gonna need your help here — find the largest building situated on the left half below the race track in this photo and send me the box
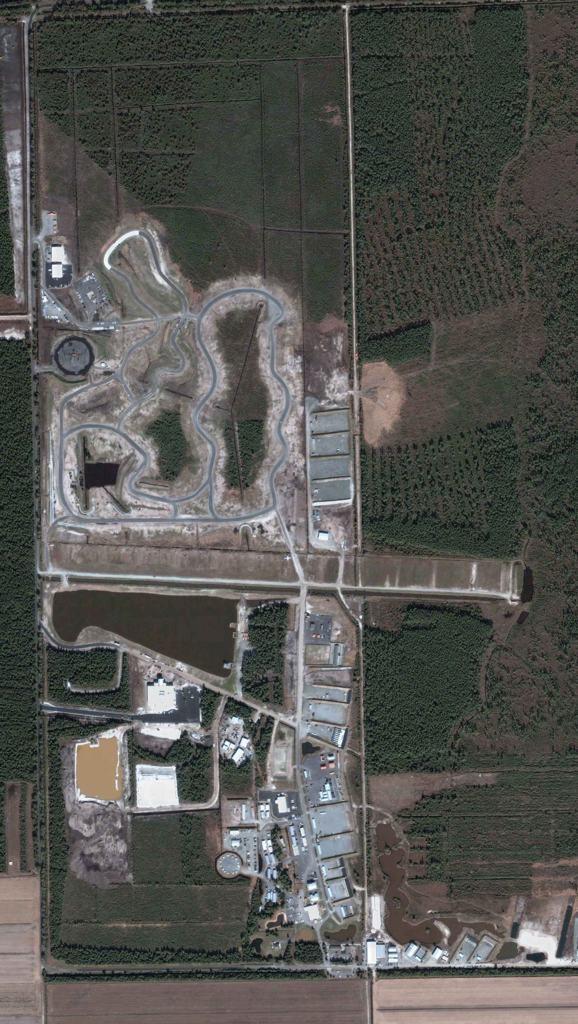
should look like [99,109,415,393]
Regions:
[147,682,176,713]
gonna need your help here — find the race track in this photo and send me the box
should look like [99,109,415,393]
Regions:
[44,230,290,570]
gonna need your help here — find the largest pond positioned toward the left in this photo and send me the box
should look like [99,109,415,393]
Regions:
[75,736,123,801]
